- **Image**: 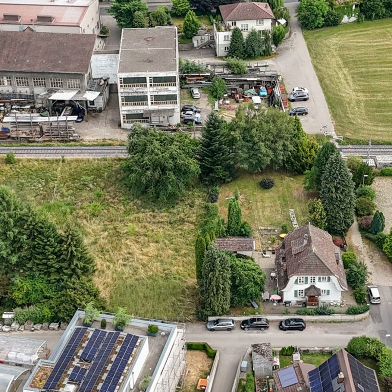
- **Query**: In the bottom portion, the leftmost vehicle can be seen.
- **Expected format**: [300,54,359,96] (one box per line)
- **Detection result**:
[207,319,236,332]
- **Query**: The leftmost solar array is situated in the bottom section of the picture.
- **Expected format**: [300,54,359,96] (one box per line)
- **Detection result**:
[278,365,297,392]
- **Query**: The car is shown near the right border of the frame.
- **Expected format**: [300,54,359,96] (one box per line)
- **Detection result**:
[366,281,382,303]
